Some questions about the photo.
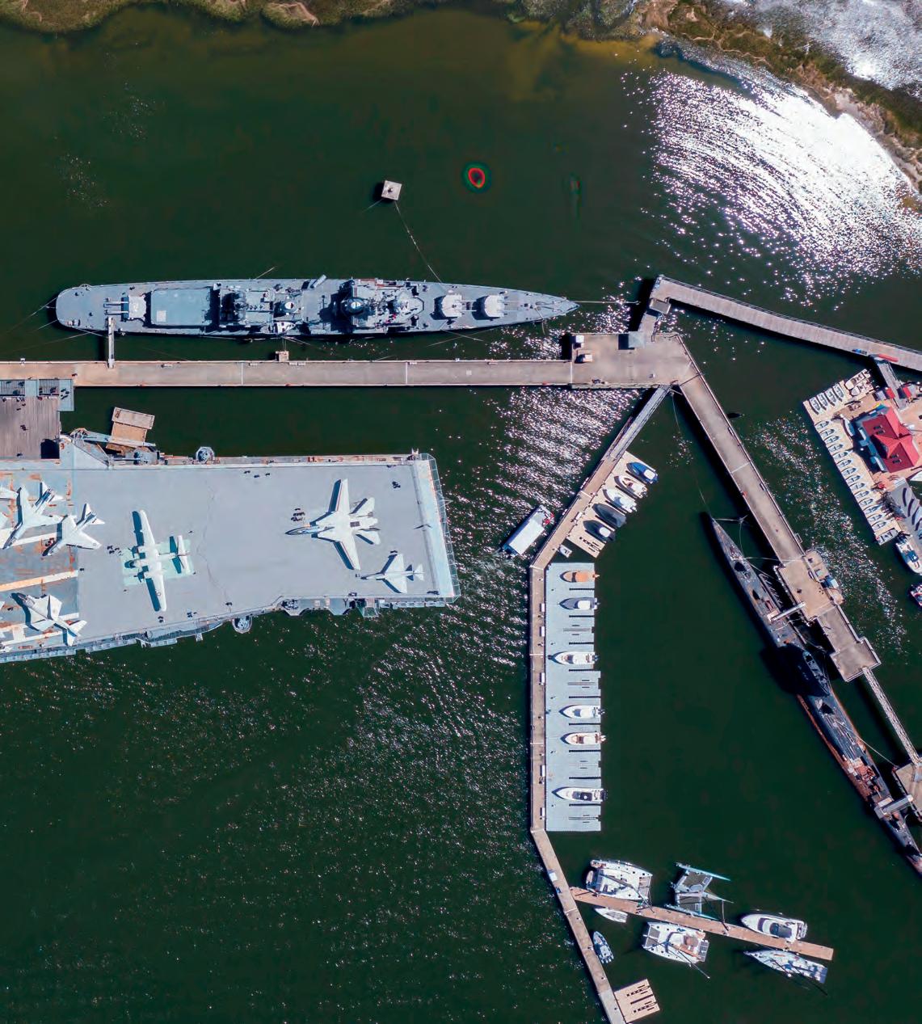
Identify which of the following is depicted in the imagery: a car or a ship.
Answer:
ship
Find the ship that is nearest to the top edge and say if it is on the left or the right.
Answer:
left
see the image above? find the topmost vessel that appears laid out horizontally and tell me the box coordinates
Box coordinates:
[54,275,580,337]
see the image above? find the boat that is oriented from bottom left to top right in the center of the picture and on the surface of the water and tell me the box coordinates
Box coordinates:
[499,506,551,560]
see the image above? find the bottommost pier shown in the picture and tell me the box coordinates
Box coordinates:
[613,977,660,1023]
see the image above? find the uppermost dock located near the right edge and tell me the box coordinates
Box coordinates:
[649,276,922,371]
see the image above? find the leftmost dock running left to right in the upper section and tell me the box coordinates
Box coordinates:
[0,360,571,388]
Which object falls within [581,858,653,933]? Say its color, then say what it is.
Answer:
white boat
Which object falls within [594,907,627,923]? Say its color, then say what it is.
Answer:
white boat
